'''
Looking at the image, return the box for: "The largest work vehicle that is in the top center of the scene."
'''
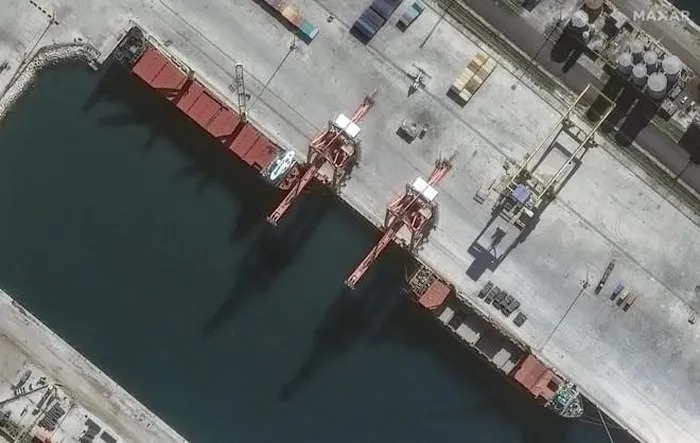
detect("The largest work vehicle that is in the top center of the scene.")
[409,65,434,92]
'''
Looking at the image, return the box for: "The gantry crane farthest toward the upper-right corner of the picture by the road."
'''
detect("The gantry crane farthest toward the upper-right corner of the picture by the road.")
[487,85,617,230]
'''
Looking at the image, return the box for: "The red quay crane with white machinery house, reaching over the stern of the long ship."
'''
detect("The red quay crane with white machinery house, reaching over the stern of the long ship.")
[264,96,380,228]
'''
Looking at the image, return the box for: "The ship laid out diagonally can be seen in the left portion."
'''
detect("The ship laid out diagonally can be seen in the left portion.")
[117,33,305,191]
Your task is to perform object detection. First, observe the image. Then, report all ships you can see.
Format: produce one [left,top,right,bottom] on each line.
[403,267,582,418]
[117,33,305,191]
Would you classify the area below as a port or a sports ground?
port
